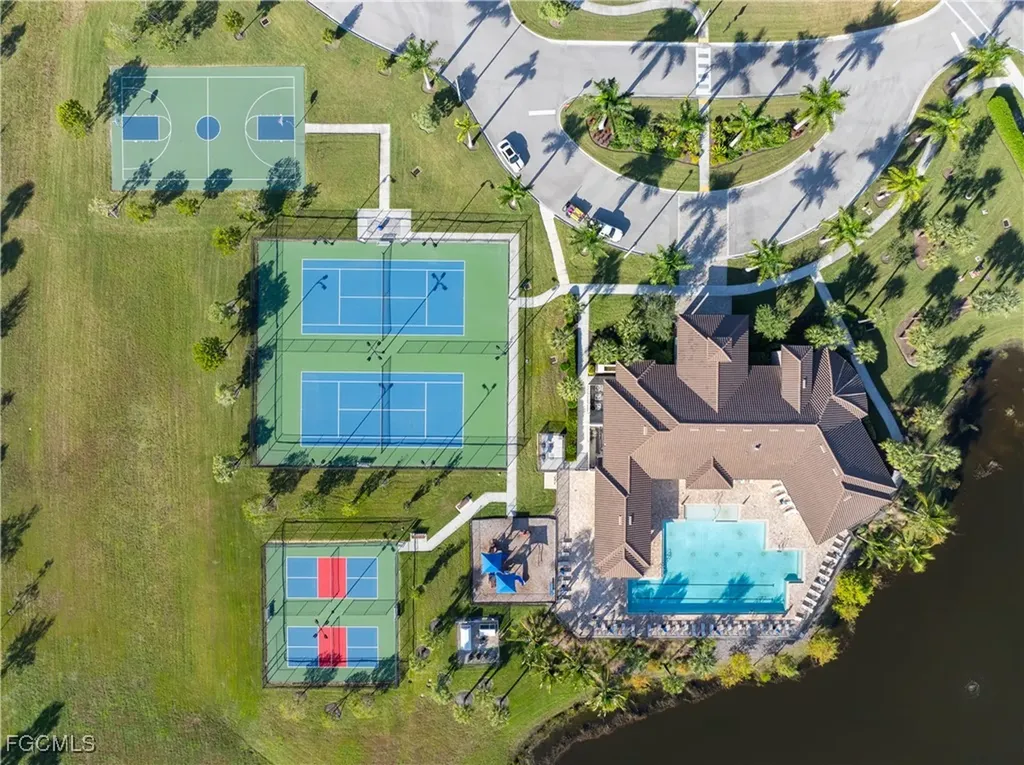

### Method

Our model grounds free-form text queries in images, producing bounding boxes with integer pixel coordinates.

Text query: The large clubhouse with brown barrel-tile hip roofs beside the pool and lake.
[594,314,897,578]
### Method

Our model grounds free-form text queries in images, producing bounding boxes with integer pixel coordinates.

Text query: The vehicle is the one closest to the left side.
[498,138,525,170]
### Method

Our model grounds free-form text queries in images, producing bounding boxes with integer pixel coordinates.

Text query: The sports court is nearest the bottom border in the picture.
[265,615,396,683]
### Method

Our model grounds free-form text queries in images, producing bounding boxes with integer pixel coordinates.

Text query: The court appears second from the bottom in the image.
[265,546,397,615]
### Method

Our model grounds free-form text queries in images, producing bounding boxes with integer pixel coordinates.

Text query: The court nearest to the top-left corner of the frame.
[110,66,305,190]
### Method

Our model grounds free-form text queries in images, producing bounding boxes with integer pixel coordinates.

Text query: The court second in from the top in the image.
[257,240,506,354]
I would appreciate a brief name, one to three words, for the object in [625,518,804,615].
swimming pool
